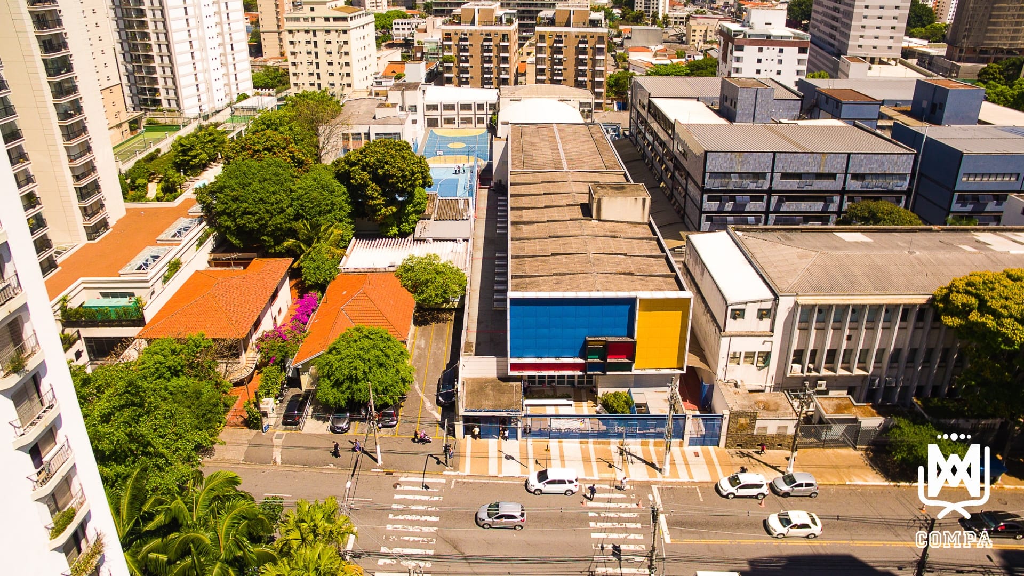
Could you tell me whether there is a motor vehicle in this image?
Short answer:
Yes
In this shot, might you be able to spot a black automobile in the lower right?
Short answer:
Yes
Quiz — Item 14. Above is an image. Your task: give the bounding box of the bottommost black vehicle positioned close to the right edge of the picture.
[966,510,1024,538]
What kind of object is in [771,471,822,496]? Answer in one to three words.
car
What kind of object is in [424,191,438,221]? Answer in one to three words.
shed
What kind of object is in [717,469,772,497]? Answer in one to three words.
car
